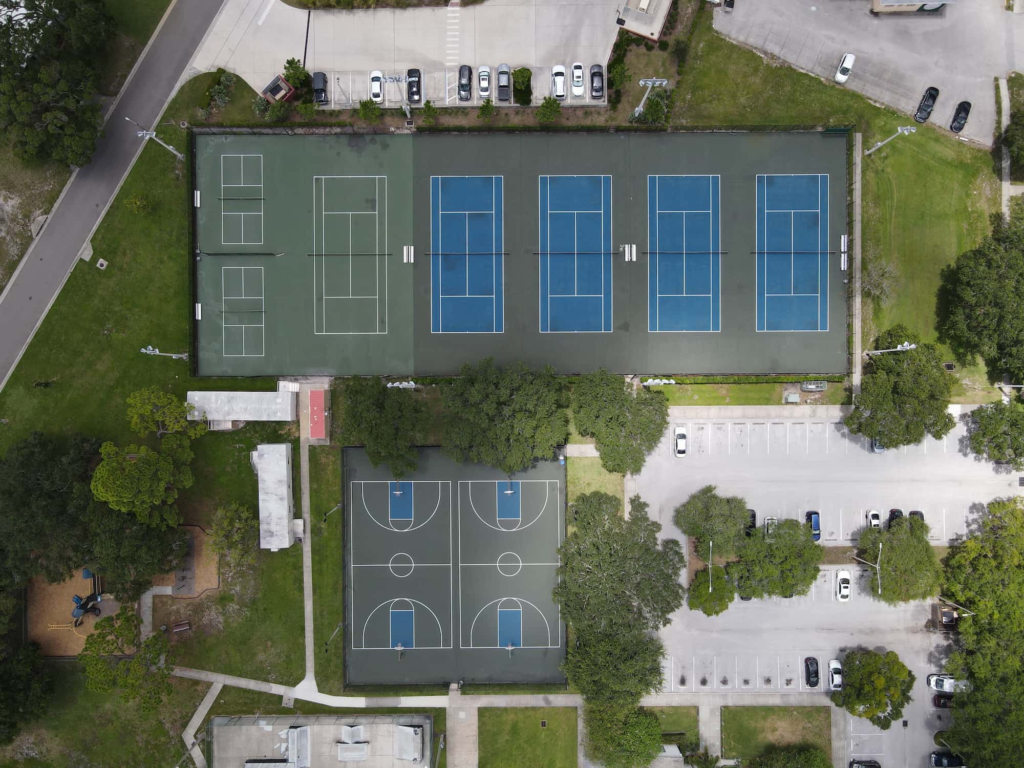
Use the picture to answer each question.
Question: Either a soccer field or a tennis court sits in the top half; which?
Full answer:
There is a tennis court in the top half.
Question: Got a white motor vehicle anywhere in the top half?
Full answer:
Yes, in the top half there is a white motor vehicle.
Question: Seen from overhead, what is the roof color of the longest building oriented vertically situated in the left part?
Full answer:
The roof over the longest building oriented vertically situated in the left part appears white.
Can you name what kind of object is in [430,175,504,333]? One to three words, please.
tennis court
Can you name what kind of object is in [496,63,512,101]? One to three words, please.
vehicle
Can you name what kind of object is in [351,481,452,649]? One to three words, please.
basketball court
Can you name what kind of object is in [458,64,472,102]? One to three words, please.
car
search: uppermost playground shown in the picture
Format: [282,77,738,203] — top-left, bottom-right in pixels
[152,526,219,599]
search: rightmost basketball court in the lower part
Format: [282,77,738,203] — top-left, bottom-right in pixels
[459,480,560,648]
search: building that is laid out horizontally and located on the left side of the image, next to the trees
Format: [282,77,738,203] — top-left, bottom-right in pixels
[187,380,306,428]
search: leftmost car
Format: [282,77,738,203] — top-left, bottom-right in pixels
[313,68,328,105]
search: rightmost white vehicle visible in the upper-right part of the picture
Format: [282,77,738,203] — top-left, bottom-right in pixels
[833,50,857,87]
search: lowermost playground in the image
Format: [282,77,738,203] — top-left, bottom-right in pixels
[29,567,137,657]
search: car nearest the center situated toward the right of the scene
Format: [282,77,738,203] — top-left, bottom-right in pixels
[673,426,688,458]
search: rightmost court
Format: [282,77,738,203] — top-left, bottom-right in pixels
[756,174,829,331]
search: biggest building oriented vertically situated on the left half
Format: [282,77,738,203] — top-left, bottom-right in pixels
[254,444,305,550]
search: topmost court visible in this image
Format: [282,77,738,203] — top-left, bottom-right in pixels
[222,155,263,244]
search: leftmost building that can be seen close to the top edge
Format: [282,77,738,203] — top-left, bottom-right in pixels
[619,0,673,43]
